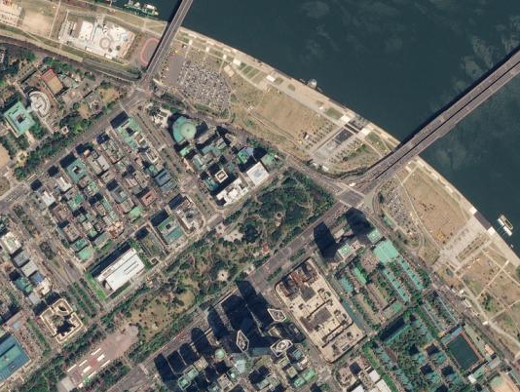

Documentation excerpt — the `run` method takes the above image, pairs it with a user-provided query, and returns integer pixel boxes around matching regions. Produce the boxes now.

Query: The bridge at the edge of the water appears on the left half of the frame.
[139,0,192,88]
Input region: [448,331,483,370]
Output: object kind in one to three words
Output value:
sports field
